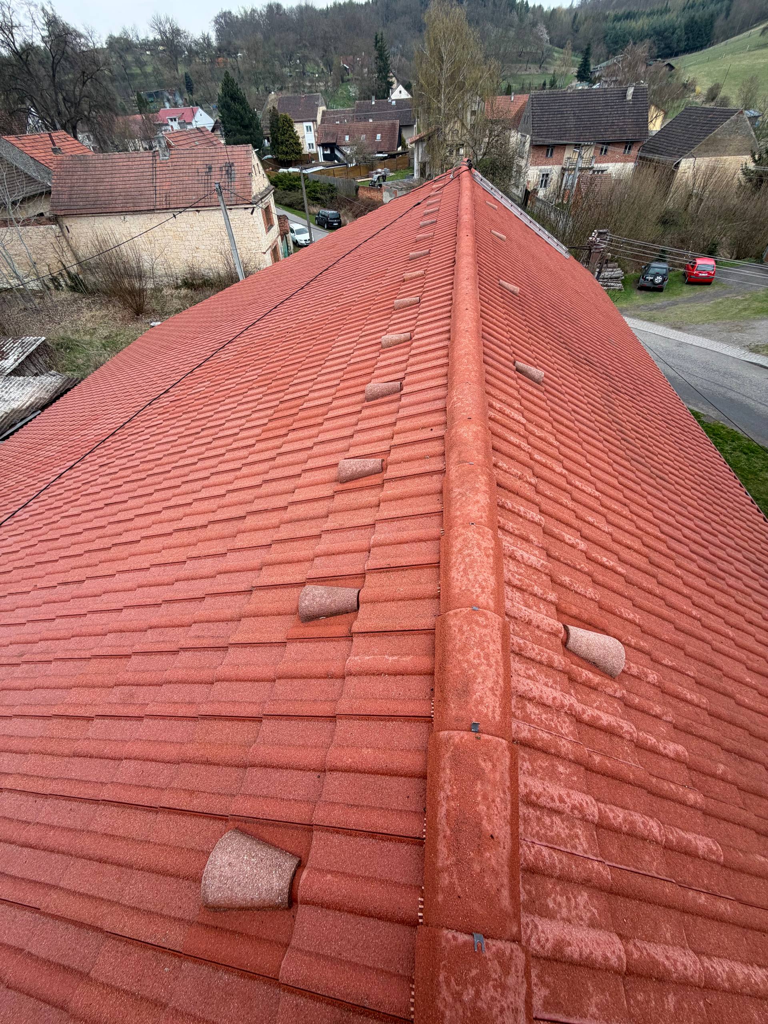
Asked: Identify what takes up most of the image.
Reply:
buildings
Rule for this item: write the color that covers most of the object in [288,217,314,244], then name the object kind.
white car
